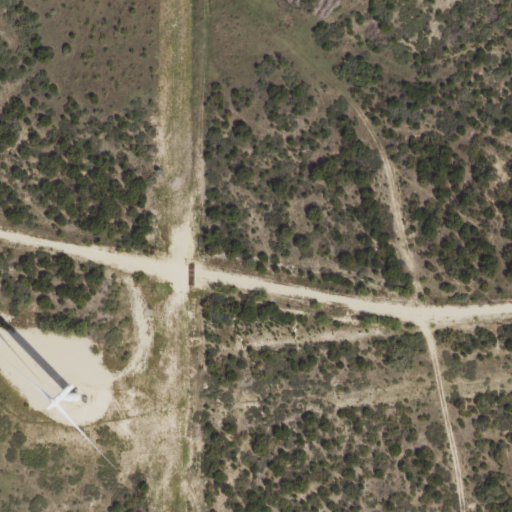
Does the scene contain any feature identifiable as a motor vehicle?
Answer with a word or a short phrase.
No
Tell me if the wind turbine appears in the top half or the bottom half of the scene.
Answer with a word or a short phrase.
bottom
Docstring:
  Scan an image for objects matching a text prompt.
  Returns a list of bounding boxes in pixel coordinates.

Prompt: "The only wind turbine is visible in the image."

[0,354,112,468]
